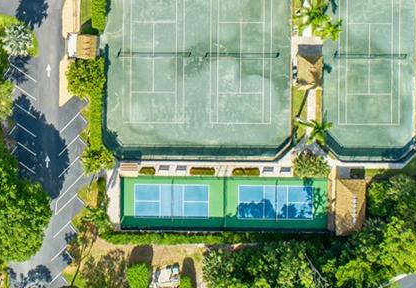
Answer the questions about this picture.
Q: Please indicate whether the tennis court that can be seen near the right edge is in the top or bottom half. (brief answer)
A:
top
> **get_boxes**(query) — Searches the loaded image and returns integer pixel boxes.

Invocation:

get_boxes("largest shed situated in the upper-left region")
[68,33,98,60]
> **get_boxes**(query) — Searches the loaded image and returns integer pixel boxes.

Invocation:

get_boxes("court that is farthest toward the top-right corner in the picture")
[323,0,416,160]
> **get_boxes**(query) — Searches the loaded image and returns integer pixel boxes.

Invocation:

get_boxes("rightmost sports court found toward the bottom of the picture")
[225,177,328,229]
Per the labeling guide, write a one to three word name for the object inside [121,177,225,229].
sports court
